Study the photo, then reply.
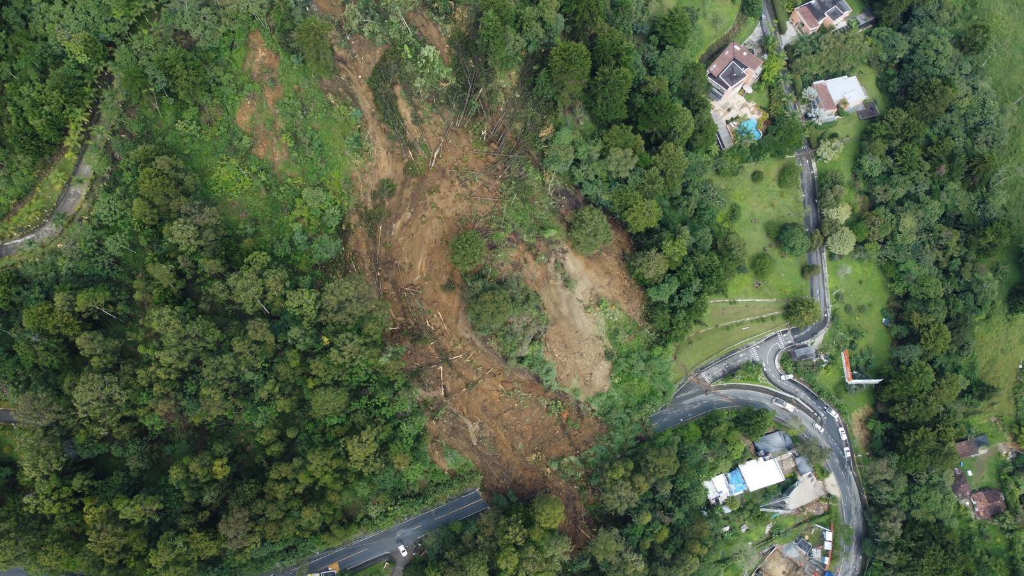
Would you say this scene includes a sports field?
No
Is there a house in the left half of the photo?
No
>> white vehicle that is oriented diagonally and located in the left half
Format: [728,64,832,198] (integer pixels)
[394,540,409,558]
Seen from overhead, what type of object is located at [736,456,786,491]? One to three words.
building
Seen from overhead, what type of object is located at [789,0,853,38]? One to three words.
house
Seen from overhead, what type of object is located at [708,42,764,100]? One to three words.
house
